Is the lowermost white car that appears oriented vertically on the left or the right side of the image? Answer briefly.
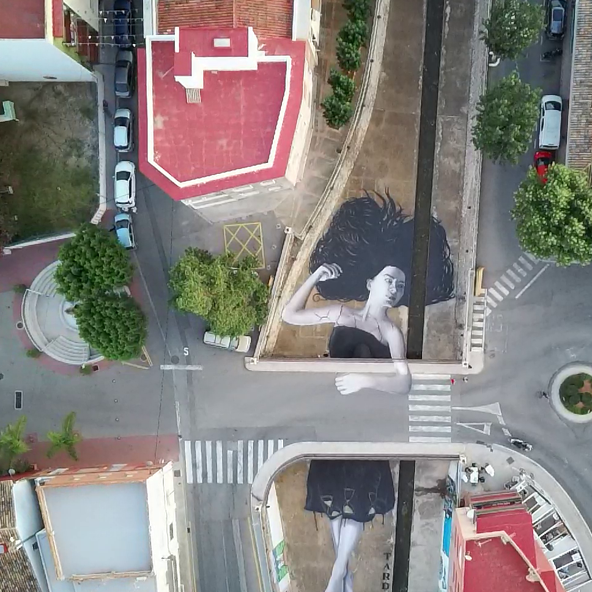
left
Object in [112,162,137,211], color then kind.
white car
